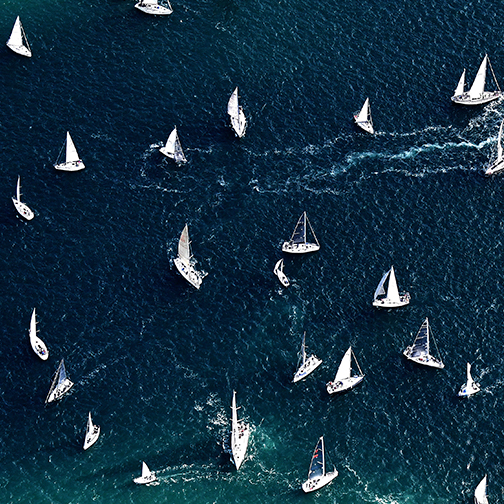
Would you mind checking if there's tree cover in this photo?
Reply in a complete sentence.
No, the picture contains no tree cover.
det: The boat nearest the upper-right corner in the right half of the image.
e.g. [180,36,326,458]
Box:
[452,57,501,105]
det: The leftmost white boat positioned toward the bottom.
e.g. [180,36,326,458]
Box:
[31,311,49,360]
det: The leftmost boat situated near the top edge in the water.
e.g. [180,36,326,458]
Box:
[5,18,31,58]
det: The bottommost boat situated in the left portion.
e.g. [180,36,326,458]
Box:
[134,462,156,483]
